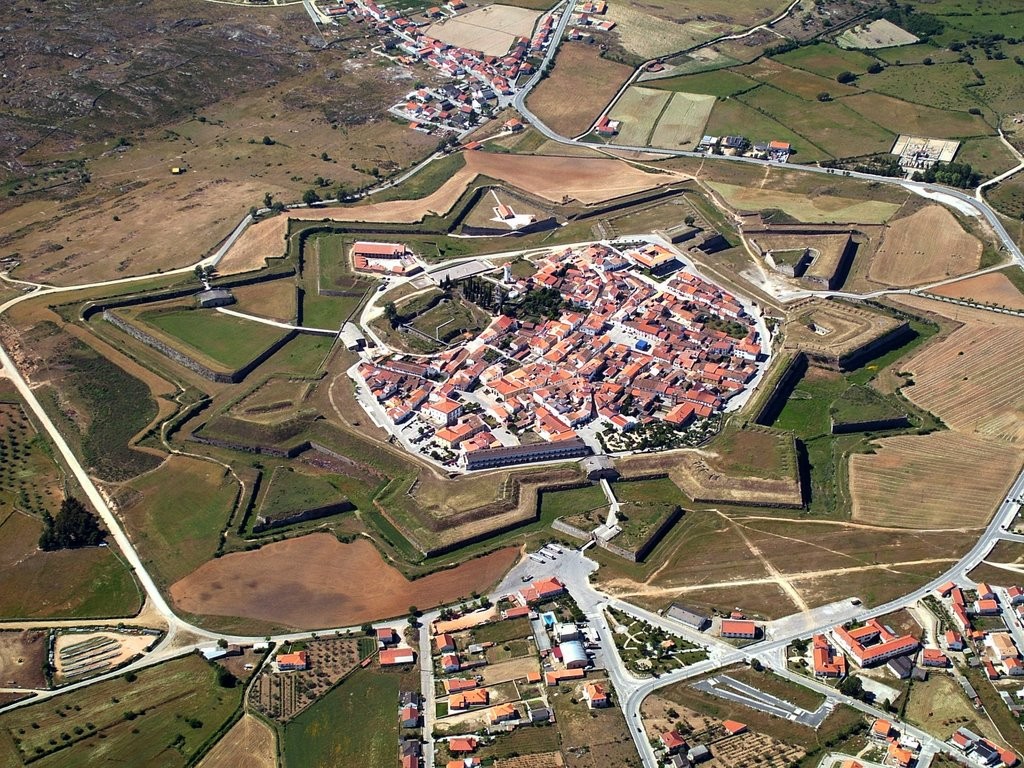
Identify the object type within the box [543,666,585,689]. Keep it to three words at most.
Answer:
shed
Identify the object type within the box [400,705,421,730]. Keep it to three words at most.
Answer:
house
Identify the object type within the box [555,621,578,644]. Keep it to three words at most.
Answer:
building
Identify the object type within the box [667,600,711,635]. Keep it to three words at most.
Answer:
barn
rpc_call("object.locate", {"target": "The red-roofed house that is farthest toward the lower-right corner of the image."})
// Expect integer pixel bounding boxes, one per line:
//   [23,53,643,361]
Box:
[984,736,1015,768]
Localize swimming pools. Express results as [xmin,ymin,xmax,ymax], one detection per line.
[541,611,557,627]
